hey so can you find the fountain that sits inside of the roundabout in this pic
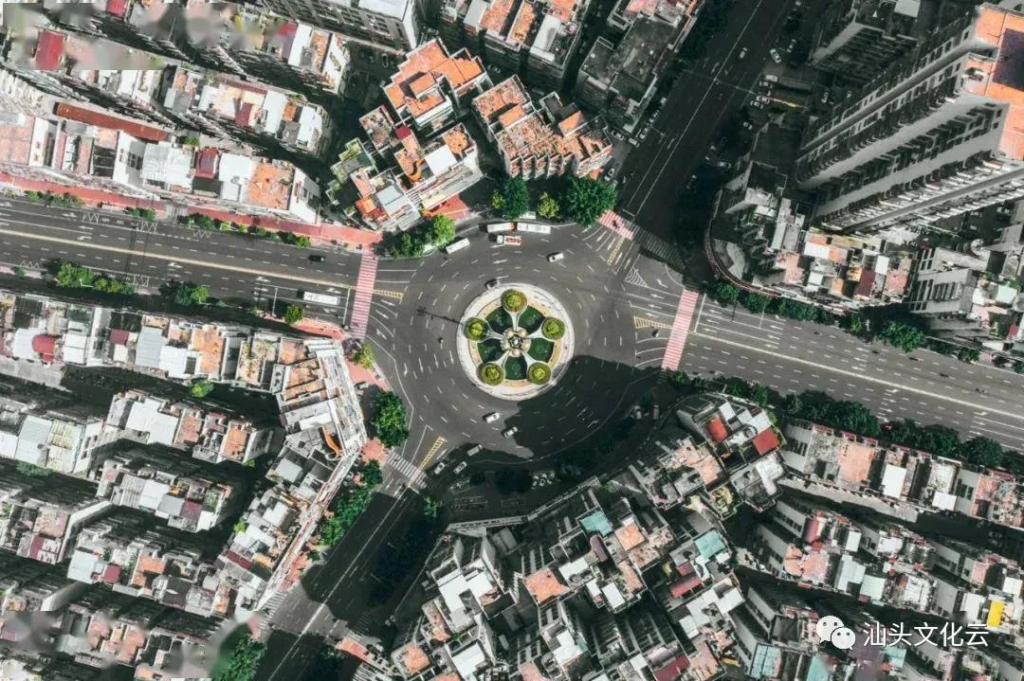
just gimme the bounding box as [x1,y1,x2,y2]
[502,330,530,356]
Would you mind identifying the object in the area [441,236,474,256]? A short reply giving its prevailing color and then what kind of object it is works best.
white bus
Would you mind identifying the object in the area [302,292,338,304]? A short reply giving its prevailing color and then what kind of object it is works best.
white vehicle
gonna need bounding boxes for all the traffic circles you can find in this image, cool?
[392,219,640,463]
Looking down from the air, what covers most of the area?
buildings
